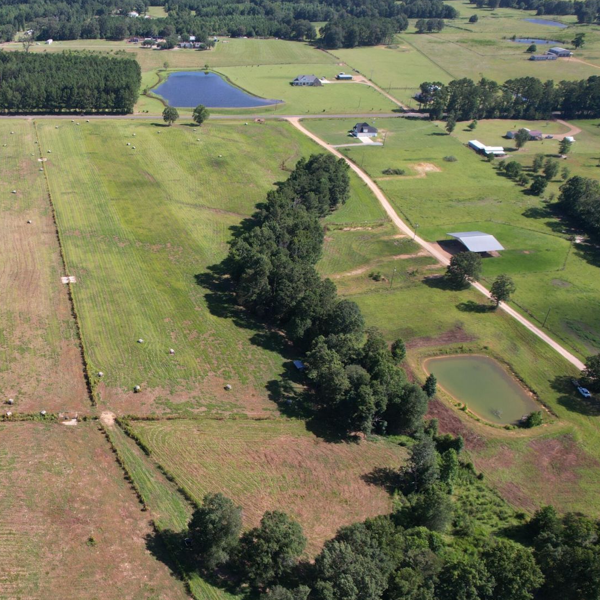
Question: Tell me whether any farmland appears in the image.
Yes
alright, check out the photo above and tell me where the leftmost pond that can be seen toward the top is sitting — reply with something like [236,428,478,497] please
[153,71,284,108]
